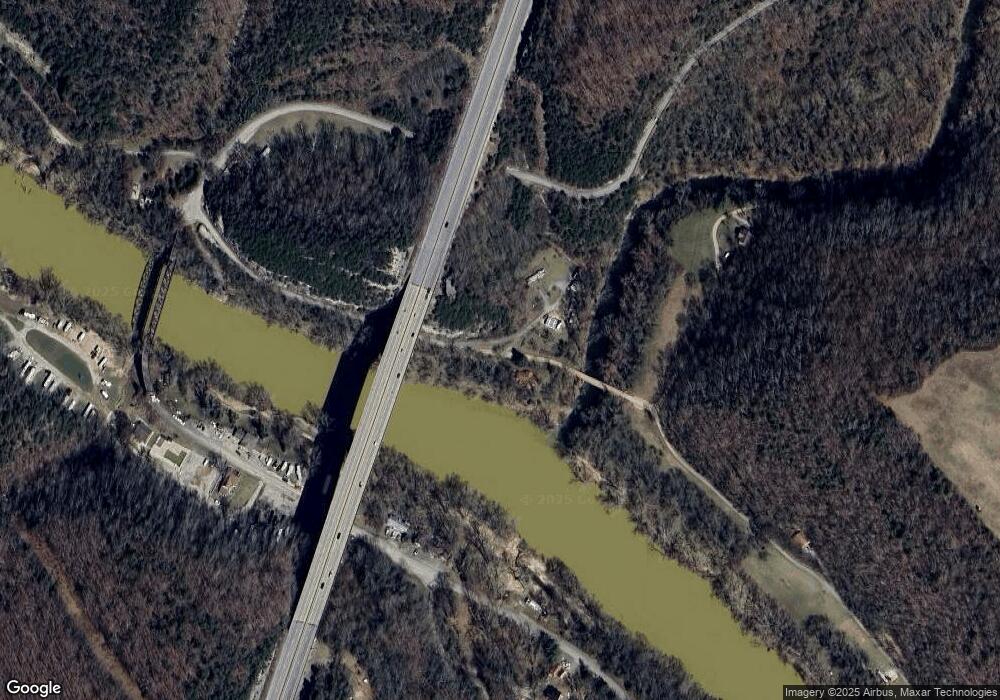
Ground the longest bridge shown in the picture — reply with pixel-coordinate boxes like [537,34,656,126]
[293,280,435,626]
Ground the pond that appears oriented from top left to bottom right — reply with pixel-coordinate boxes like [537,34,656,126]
[26,329,93,388]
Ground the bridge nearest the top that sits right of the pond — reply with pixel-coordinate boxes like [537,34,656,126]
[146,229,181,348]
